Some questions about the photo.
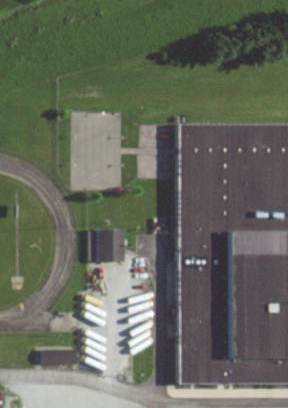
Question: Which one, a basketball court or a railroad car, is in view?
basketball court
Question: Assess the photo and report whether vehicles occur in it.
Yes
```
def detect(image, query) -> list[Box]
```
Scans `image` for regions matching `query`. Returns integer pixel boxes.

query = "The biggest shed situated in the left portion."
[88,230,124,262]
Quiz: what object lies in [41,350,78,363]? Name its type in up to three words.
shed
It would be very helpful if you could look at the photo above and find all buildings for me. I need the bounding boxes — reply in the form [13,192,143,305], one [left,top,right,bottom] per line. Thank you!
[175,124,288,384]
[88,230,124,262]
[41,350,78,363]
